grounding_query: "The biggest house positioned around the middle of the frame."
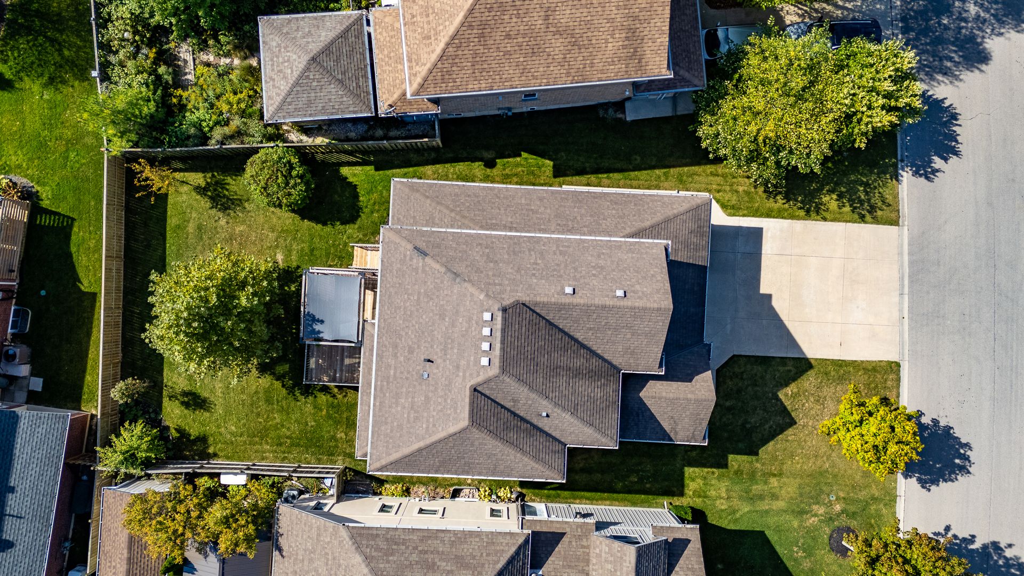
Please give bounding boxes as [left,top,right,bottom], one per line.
[354,176,716,485]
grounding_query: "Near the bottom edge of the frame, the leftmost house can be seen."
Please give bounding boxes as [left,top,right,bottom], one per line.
[0,393,91,576]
